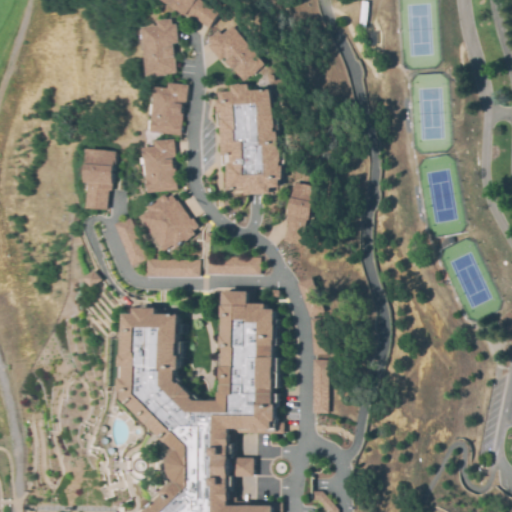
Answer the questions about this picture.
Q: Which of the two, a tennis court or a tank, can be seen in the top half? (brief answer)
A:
tennis court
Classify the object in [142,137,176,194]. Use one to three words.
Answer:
house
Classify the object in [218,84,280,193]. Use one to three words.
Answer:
building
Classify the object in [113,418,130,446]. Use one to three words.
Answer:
swimming pool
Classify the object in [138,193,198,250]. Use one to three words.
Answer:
house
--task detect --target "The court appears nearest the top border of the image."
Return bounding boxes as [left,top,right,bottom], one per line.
[402,0,442,68]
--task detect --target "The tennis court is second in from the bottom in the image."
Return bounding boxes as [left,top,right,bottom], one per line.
[422,154,466,236]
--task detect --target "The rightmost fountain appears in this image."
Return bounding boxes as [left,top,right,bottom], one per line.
[272,458,291,477]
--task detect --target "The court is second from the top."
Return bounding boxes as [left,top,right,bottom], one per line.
[412,72,454,154]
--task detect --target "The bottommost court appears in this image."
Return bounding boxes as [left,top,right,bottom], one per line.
[442,238,502,320]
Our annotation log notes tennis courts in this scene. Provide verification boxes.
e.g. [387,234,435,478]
[412,72,454,154]
[402,0,442,68]
[422,154,466,236]
[442,238,502,320]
